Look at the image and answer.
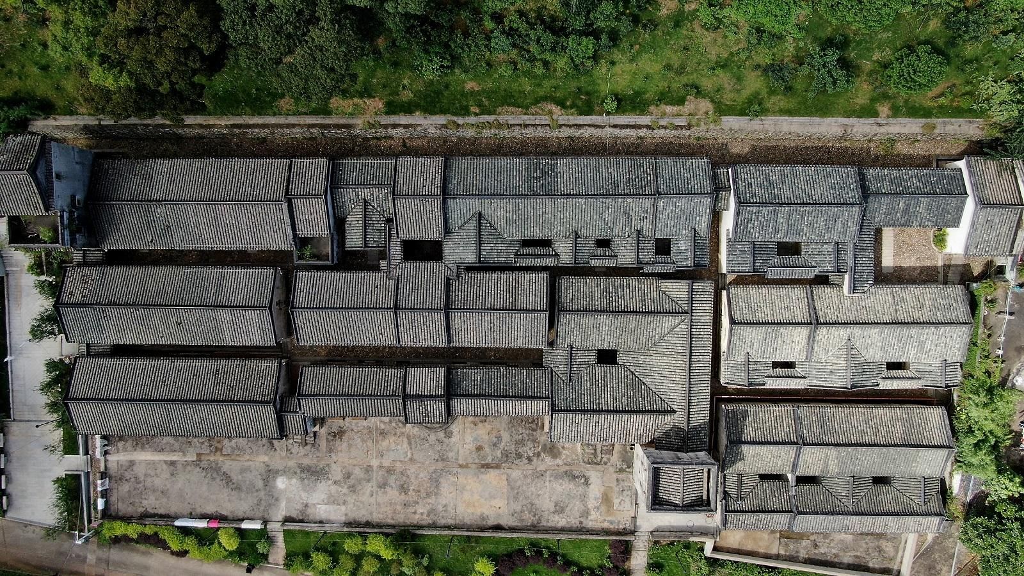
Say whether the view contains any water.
No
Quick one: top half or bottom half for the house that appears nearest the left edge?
top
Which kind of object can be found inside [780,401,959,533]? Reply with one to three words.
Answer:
house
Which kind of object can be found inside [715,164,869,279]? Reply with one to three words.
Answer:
house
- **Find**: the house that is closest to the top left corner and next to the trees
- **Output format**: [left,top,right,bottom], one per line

[0,133,115,255]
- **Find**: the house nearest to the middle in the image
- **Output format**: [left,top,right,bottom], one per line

[447,272,550,348]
